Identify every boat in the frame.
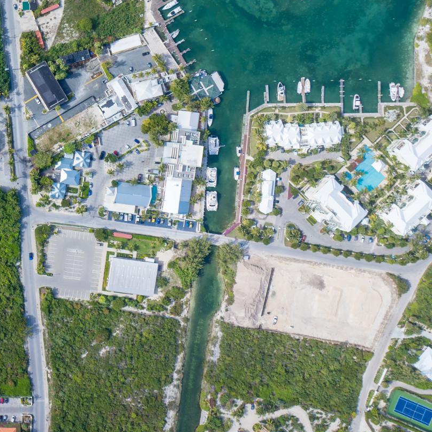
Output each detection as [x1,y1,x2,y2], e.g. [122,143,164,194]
[206,167,217,187]
[207,136,221,155]
[397,84,403,97]
[167,6,182,17]
[304,78,310,93]
[162,0,179,10]
[351,93,360,111]
[296,82,301,94]
[205,191,217,210]
[233,166,238,180]
[235,145,242,157]
[276,82,283,101]
[207,108,212,127]
[388,82,397,101]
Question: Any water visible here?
Yes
